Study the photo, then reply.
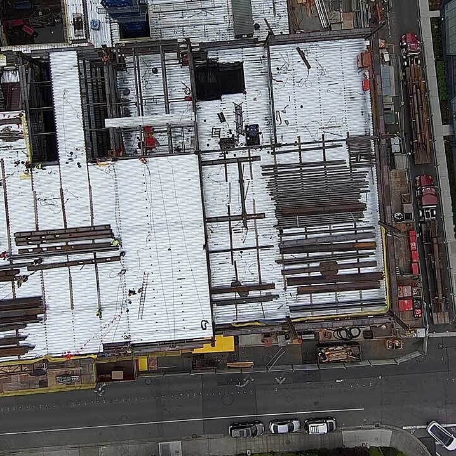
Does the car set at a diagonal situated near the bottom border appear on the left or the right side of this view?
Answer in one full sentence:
It is on the right.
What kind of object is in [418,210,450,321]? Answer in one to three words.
trailer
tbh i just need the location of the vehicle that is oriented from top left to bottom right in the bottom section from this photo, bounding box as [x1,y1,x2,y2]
[423,419,456,451]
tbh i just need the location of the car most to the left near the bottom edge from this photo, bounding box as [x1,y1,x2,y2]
[229,419,264,437]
